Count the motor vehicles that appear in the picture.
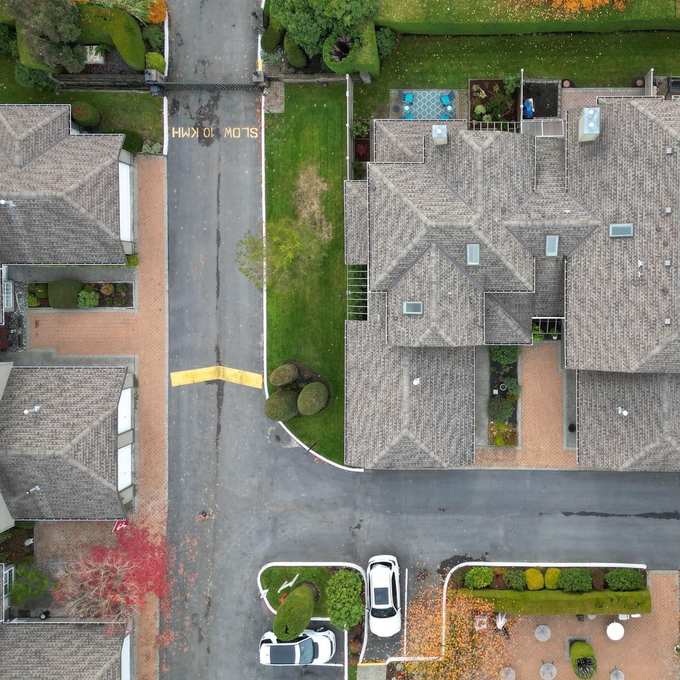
2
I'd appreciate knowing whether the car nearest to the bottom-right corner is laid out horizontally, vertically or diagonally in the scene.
vertically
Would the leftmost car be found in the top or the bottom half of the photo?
bottom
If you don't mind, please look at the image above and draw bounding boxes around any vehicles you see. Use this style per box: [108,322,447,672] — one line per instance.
[261,624,337,671]
[364,555,403,635]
